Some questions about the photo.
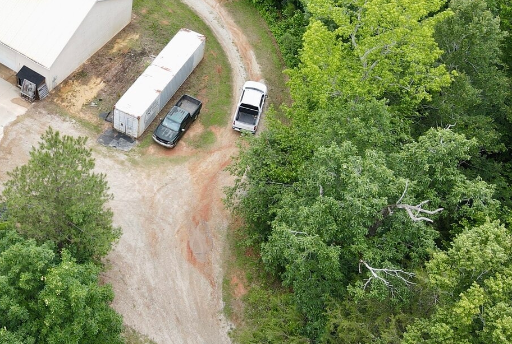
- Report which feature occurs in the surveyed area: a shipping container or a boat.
shipping container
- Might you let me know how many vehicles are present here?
2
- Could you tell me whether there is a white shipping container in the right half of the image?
No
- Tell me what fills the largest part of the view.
trees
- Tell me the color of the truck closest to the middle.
white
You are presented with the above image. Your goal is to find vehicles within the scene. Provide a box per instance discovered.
[232,80,268,134]
[155,92,201,146]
